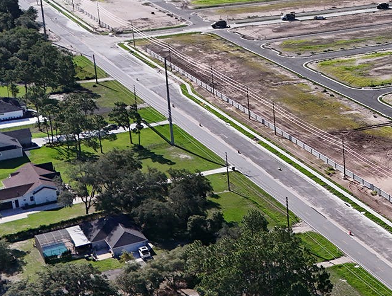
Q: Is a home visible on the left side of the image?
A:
Yes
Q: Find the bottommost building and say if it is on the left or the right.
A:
left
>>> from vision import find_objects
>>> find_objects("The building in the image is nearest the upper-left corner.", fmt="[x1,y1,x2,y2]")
[0,98,26,120]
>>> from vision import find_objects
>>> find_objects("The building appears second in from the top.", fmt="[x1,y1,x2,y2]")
[0,129,35,160]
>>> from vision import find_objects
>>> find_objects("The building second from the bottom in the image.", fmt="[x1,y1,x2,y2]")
[0,163,65,210]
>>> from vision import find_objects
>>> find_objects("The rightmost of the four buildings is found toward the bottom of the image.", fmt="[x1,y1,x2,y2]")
[33,213,148,264]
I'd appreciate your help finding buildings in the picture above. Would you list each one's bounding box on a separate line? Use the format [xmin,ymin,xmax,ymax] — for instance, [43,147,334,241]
[0,129,35,160]
[0,163,65,210]
[33,213,148,264]
[0,98,26,120]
